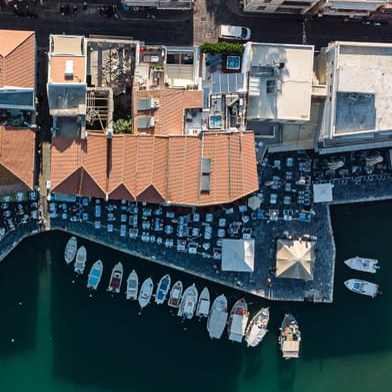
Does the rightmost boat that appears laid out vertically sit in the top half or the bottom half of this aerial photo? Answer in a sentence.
You can find the rightmost boat that appears laid out vertically in the bottom half.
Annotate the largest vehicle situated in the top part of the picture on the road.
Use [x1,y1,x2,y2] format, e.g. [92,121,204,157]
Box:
[219,24,250,40]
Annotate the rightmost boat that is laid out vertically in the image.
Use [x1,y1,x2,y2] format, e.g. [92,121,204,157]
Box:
[280,314,301,358]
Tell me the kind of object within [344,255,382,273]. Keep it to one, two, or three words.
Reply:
boat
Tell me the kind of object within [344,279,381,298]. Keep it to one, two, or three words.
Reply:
boat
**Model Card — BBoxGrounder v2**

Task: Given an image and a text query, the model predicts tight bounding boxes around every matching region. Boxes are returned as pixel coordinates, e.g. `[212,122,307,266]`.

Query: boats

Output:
[64,235,77,264]
[344,255,382,273]
[280,314,301,358]
[169,281,182,308]
[247,301,275,348]
[109,252,128,294]
[138,274,154,308]
[155,273,171,307]
[344,279,381,298]
[75,242,90,275]
[86,258,101,292]
[179,280,200,321]
[126,259,143,302]
[208,289,231,339]
[228,294,252,341]
[197,282,217,319]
